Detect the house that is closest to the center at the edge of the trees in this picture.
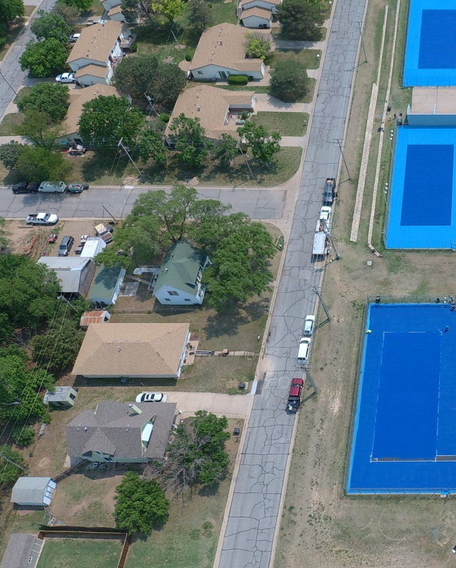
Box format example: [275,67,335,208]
[153,237,214,304]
